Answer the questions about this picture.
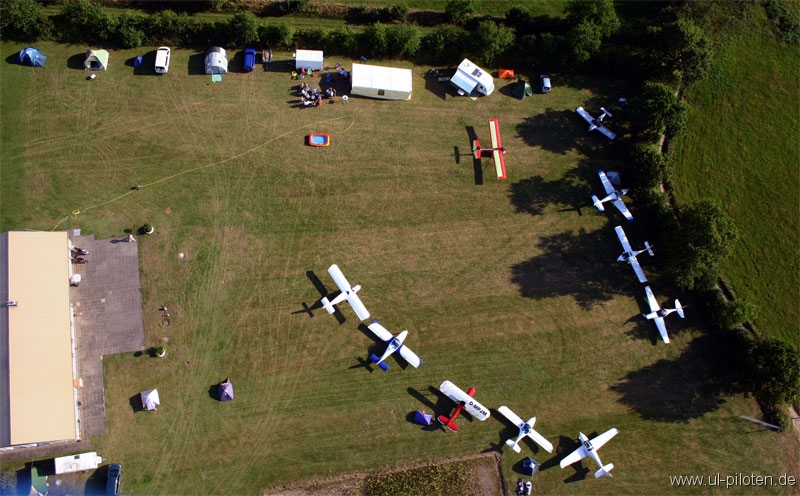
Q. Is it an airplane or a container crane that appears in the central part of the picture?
airplane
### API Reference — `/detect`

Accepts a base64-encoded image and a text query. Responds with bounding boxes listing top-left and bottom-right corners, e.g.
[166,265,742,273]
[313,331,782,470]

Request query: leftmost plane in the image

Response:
[319,267,367,323]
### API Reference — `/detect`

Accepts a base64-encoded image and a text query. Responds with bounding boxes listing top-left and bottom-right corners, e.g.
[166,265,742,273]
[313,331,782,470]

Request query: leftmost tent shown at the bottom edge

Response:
[26,473,50,496]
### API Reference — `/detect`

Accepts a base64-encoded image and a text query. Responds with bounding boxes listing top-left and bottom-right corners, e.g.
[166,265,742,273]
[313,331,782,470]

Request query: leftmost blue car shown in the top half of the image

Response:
[241,48,254,71]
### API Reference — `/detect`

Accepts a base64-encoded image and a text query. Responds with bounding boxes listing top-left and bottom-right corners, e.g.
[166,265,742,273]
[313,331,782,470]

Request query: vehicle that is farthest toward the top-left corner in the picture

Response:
[156,48,172,75]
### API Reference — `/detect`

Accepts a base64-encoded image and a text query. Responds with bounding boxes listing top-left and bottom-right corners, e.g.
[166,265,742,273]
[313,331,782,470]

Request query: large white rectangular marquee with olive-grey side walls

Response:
[349,65,412,102]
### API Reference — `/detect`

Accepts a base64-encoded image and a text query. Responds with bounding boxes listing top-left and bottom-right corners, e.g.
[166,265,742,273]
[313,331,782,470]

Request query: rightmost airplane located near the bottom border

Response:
[559,428,621,484]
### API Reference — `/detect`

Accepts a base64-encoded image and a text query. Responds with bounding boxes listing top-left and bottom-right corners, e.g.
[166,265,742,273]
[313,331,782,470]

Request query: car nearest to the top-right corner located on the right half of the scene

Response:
[538,76,552,96]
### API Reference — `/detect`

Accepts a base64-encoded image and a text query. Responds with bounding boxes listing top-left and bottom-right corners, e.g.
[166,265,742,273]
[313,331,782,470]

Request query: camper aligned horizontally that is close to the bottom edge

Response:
[55,455,114,481]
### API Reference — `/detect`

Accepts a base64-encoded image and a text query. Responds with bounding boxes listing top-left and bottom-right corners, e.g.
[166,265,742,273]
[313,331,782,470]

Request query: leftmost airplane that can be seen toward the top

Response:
[473,120,509,177]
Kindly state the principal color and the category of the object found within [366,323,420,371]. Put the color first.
white airplane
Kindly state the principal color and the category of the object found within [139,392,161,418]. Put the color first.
white tent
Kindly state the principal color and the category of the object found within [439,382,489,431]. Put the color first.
white airplane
